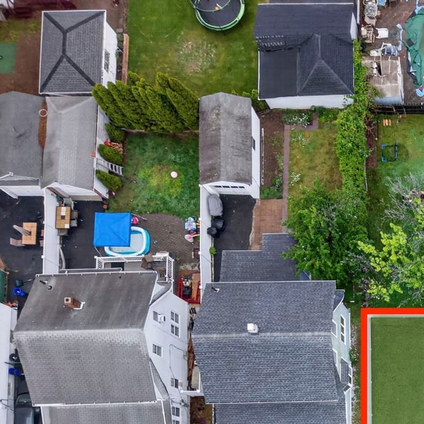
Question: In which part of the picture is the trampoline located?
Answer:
top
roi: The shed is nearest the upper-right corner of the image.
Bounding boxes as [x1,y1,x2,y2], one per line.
[363,55,403,104]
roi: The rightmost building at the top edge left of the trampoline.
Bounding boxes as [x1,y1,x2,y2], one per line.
[38,9,120,97]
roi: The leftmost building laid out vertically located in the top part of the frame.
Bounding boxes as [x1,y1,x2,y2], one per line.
[0,92,46,193]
